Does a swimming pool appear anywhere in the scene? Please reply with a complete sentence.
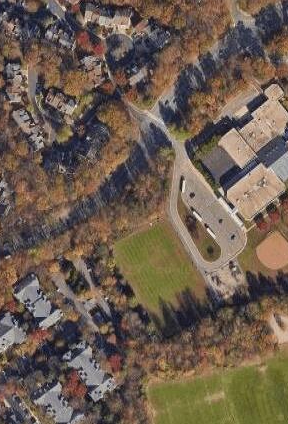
No, no swimming pool is visible in the view.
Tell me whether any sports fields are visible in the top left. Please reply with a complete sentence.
No, looking in the top left, there is no sports field.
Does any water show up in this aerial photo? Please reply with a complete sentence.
No, the scene doesn't show any water.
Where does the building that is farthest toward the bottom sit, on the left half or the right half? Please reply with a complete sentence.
You can find the building that is farthest toward the bottom on the left side of the picture.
